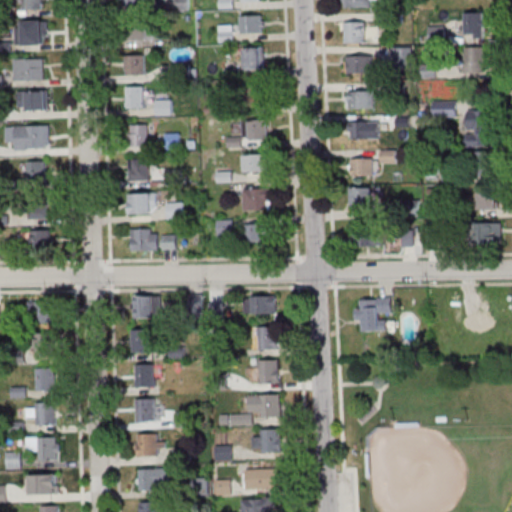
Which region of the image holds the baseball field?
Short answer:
bottom right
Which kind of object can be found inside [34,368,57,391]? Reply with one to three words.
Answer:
house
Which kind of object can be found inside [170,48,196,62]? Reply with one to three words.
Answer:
swimming pool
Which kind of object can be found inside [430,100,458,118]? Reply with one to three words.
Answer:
building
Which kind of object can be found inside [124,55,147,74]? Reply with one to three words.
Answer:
house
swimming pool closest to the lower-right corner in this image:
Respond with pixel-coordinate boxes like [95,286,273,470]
[400,311,420,344]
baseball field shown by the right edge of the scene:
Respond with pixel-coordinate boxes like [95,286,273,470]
[370,428,512,512]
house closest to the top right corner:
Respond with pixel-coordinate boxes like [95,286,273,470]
[462,12,483,45]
